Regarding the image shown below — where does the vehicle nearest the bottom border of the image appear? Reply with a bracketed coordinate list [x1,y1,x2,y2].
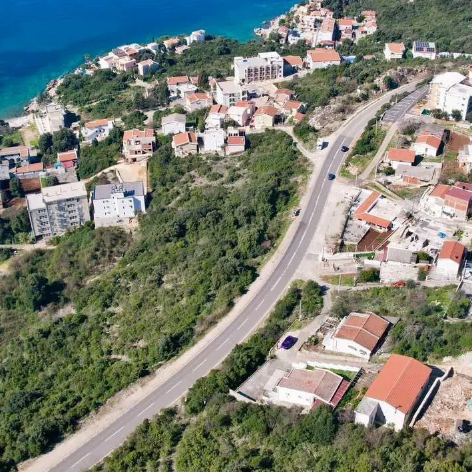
[279,335,297,350]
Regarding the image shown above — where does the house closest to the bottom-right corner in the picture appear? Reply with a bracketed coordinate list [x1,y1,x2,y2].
[355,355,430,432]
